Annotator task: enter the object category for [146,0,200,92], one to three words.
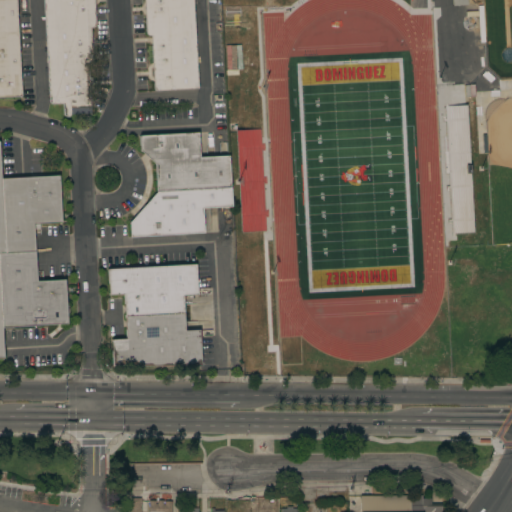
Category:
building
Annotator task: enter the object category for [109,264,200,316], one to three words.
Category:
building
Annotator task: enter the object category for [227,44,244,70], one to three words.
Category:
shed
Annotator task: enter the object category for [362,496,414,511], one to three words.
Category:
house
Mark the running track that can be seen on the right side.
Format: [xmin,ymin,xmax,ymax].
[264,0,446,362]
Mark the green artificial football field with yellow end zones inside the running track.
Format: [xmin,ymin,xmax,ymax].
[289,51,423,298]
